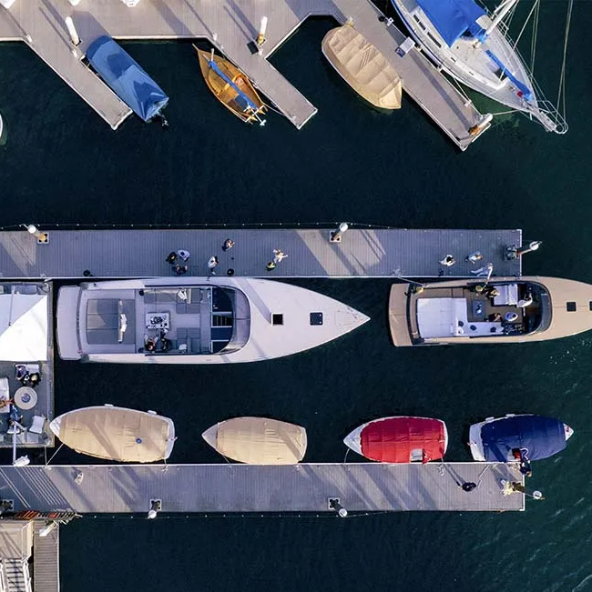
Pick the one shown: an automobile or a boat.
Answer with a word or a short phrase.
boat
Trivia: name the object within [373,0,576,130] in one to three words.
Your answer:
boat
